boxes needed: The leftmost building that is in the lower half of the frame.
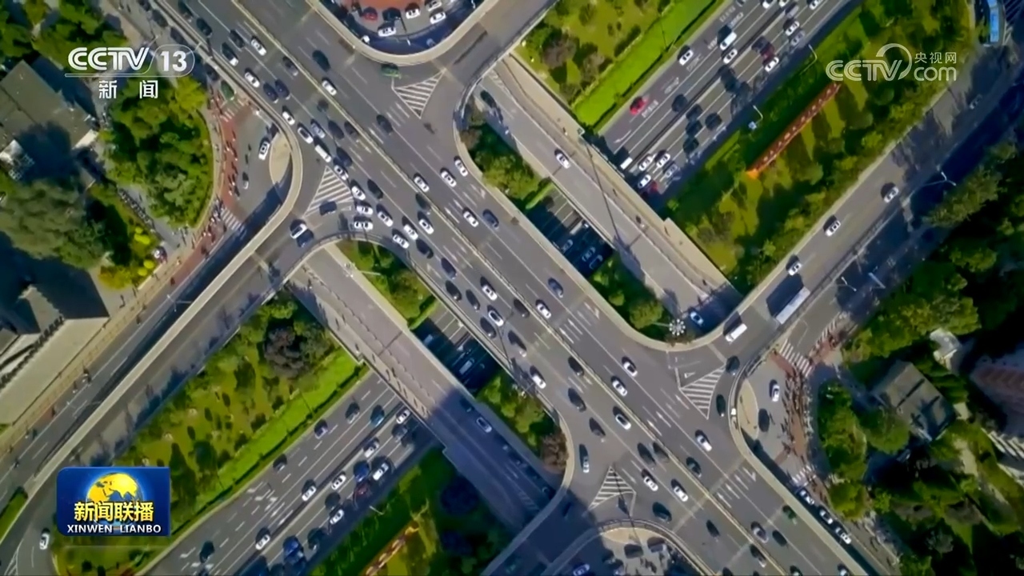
[0,284,109,434]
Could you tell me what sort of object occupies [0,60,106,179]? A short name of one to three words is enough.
building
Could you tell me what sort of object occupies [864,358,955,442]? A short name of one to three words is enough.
house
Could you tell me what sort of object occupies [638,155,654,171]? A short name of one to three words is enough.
car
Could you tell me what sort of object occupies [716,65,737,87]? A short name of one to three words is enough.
vehicle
